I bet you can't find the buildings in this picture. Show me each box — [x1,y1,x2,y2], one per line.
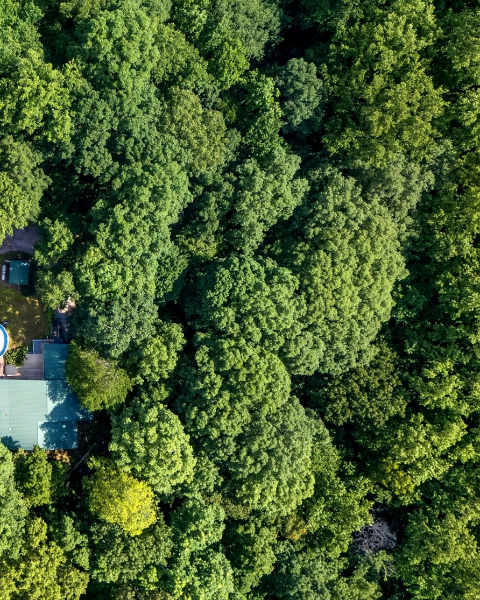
[8,260,29,284]
[0,344,93,450]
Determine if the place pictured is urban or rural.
rural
